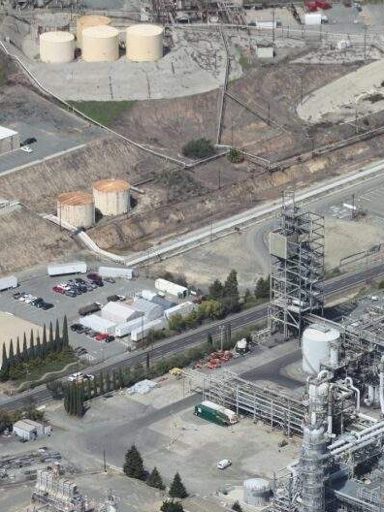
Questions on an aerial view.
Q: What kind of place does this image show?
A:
industrial area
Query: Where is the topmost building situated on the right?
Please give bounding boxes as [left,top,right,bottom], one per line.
[251,45,278,63]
